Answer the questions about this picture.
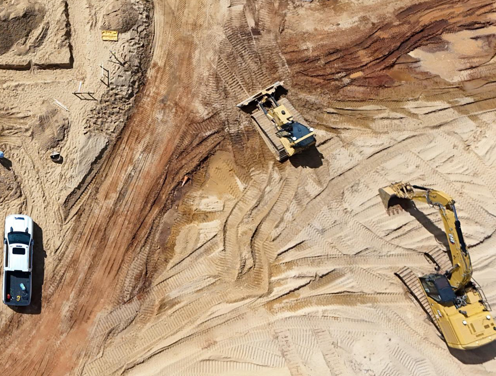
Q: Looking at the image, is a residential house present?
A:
No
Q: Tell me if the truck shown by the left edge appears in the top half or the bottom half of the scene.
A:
bottom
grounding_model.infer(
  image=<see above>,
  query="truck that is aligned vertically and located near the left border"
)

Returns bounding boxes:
[2,216,37,314]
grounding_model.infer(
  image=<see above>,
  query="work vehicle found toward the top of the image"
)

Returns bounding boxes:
[237,80,318,161]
